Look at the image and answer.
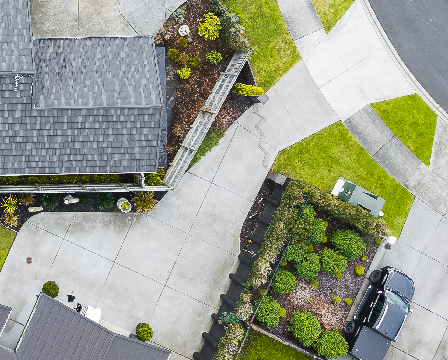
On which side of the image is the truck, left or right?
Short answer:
right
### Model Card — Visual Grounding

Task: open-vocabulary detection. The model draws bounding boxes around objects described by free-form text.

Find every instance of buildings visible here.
[0,292,173,360]
[0,0,164,179]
